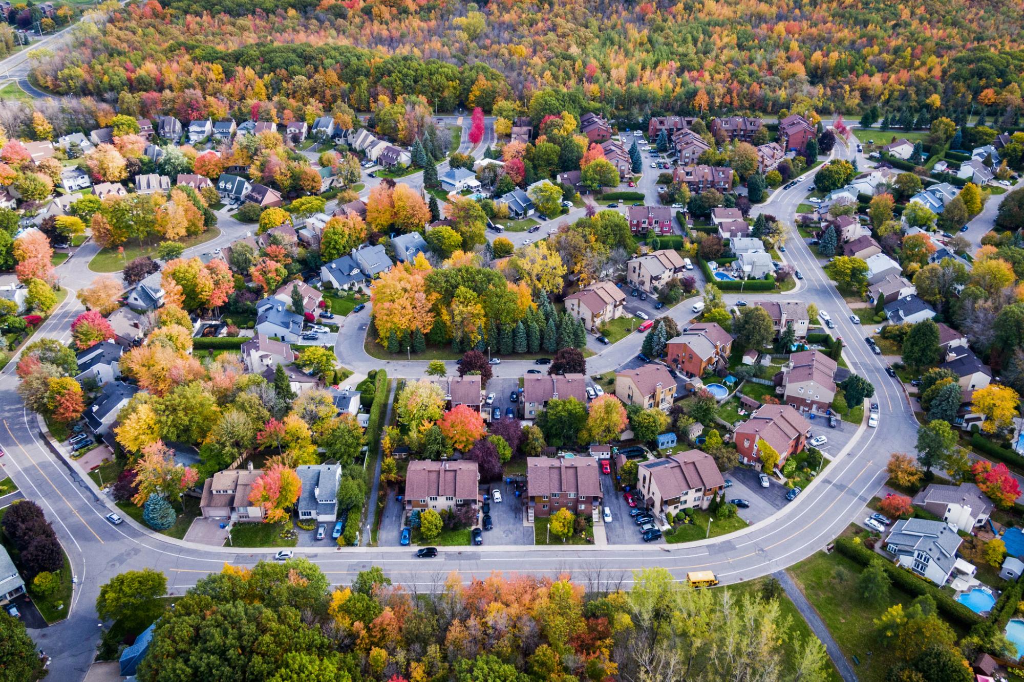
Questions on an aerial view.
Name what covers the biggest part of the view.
trees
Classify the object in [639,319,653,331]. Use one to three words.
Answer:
vehicle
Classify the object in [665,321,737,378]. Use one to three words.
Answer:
house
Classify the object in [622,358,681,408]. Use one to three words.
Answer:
house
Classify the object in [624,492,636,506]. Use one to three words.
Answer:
vehicle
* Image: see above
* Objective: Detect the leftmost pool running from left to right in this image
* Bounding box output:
[195,320,233,338]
